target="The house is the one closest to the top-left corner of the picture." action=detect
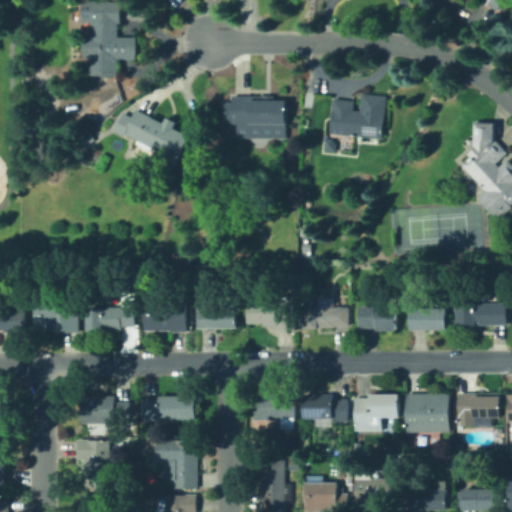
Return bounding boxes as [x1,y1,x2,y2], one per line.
[80,2,136,76]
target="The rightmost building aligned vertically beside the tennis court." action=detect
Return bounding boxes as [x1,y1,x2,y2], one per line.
[464,120,512,216]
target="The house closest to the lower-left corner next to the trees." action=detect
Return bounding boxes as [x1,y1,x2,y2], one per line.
[75,440,110,462]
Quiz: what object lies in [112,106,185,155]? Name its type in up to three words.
house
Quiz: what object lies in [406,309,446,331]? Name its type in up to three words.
house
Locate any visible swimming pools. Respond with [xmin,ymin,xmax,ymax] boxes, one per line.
[466,432,494,445]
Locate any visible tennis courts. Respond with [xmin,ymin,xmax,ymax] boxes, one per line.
[394,204,485,258]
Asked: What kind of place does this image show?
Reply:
residential area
